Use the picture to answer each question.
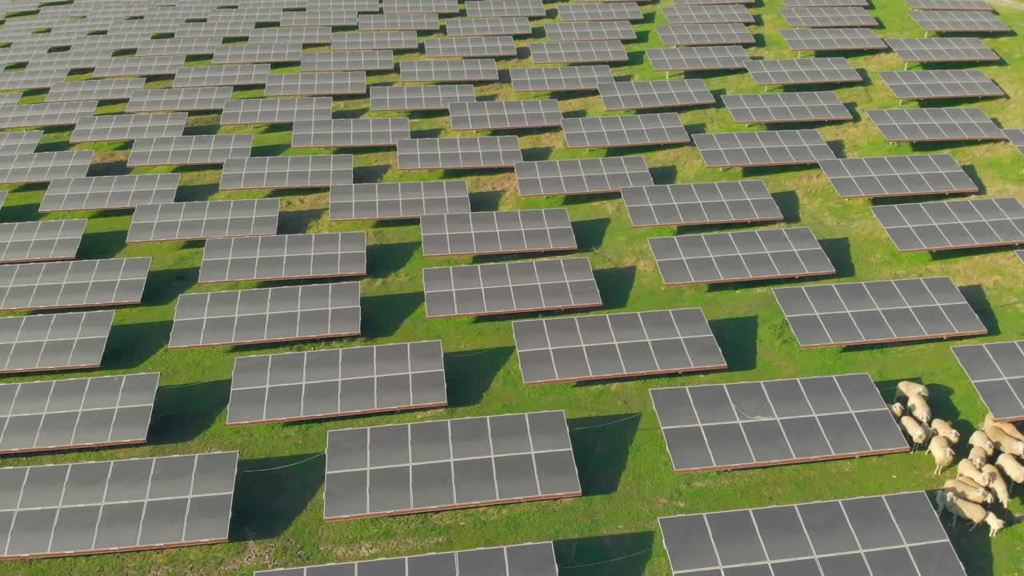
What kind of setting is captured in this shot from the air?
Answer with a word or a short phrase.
solar farm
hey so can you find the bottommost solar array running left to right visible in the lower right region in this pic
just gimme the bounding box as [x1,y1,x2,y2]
[659,491,967,576]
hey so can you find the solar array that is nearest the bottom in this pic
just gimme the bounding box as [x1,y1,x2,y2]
[255,542,557,576]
